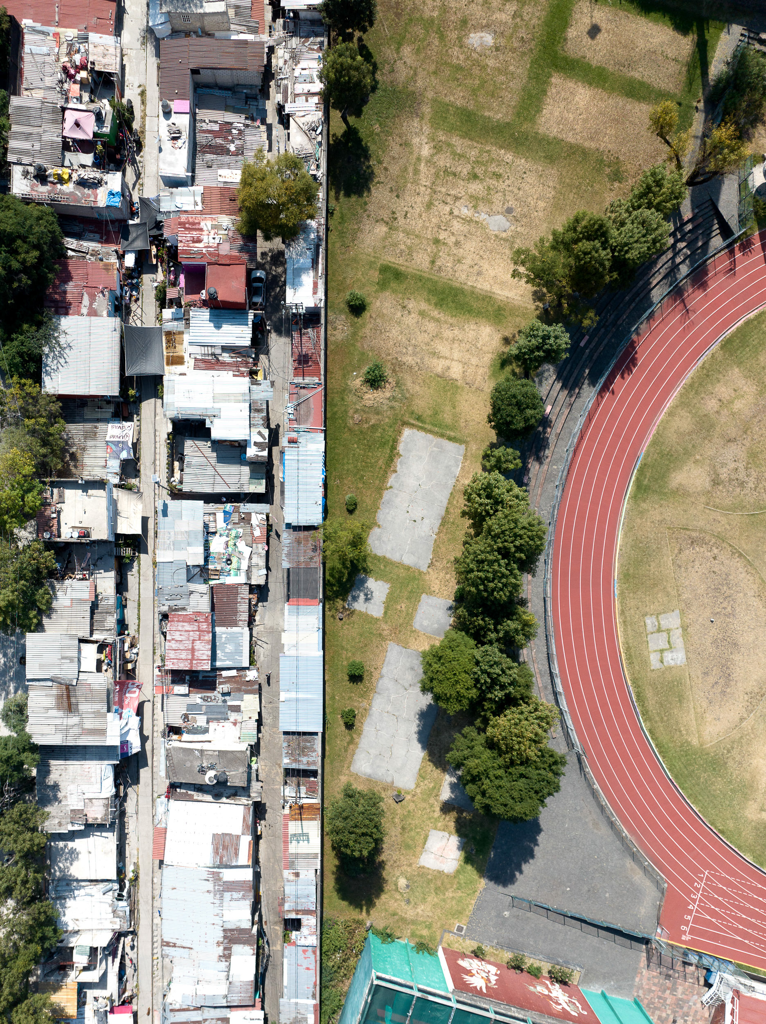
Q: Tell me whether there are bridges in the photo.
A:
No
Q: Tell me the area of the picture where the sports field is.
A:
right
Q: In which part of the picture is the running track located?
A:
right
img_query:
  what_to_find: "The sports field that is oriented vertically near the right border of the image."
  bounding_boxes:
[617,311,766,873]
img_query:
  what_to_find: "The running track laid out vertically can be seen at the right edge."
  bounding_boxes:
[548,237,766,972]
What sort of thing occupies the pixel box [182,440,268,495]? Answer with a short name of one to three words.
house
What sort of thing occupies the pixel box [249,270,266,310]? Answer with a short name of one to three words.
car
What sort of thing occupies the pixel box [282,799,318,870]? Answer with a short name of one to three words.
house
